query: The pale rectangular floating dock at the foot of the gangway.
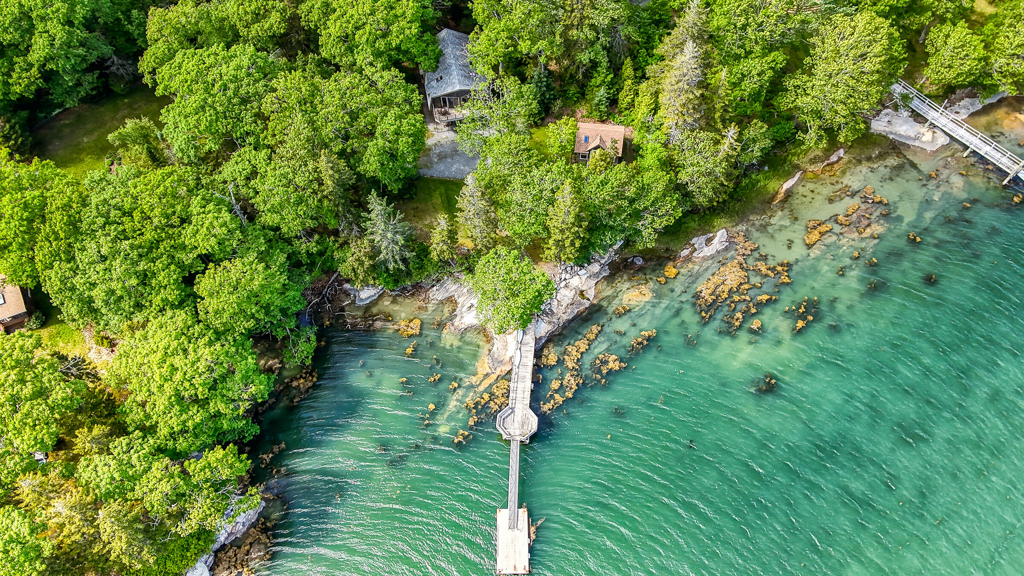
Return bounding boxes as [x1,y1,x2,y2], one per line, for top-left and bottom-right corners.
[496,508,531,575]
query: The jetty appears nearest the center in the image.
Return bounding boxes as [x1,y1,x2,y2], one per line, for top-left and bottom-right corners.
[496,298,539,447]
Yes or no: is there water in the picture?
Yes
